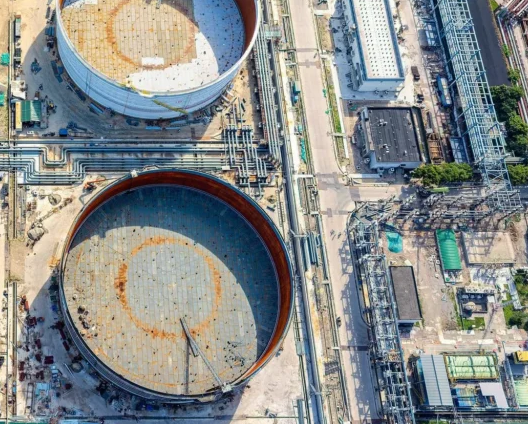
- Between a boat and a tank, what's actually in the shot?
tank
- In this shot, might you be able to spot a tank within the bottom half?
Yes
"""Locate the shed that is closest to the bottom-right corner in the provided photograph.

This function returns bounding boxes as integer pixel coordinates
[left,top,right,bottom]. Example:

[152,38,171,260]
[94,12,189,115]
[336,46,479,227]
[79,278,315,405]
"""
[473,383,507,408]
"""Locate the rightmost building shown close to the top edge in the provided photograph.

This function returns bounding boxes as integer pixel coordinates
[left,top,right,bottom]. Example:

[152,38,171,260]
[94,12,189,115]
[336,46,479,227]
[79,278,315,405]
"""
[344,0,406,90]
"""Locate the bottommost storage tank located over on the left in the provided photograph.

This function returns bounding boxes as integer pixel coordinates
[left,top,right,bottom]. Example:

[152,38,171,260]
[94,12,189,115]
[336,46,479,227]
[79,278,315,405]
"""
[59,167,298,407]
